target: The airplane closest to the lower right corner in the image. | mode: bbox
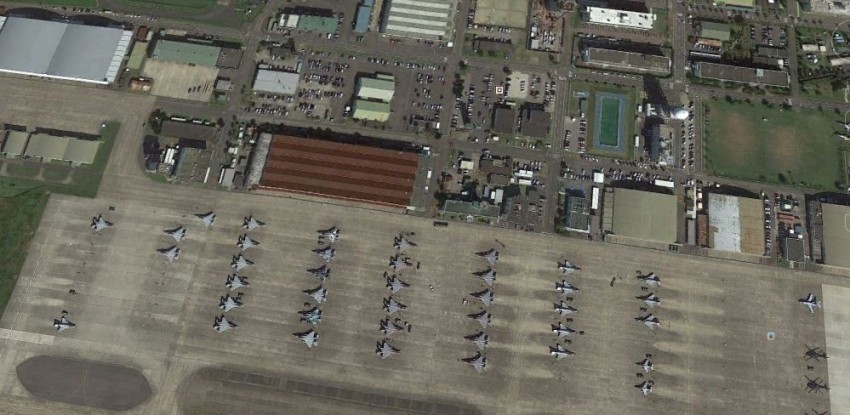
[801,293,822,312]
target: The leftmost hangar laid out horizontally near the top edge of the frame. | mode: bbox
[0,16,134,85]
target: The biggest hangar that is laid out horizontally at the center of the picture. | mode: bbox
[256,135,420,209]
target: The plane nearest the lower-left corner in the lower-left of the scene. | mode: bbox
[55,318,73,331]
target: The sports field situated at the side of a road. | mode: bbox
[705,100,846,197]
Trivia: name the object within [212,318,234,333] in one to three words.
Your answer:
airplane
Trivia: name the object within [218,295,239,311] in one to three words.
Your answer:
airplane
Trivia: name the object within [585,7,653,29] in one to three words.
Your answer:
building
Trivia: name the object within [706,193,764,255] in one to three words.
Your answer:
hangar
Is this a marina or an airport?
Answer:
airport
